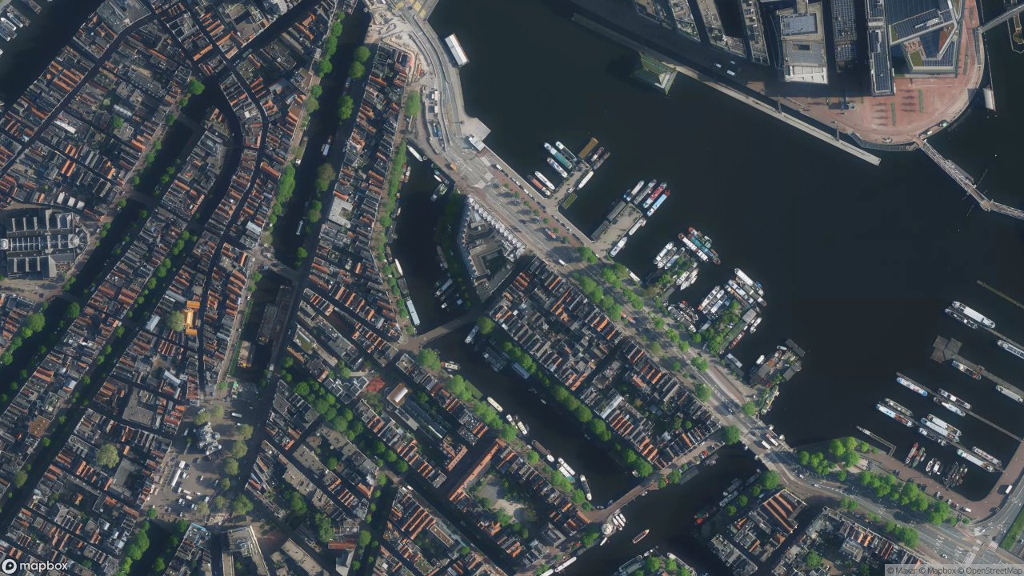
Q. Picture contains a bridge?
Yes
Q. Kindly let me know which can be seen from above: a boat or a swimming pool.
boat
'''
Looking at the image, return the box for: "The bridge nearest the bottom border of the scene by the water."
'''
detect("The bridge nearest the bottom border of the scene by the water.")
[585,478,662,527]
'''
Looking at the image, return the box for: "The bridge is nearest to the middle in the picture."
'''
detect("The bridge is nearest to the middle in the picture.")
[412,308,486,349]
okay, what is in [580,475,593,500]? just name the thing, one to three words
boat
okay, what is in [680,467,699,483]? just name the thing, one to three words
boat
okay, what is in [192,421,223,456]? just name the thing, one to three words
house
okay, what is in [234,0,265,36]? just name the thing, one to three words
building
